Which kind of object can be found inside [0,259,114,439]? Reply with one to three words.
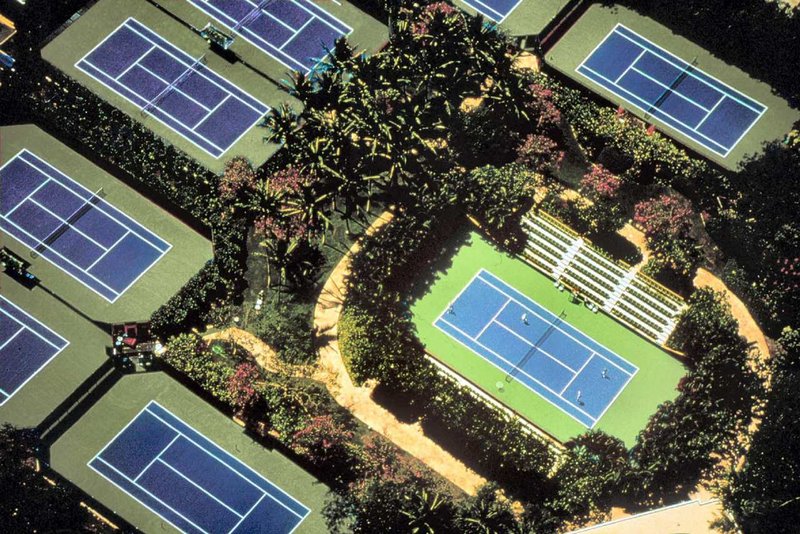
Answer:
tennis court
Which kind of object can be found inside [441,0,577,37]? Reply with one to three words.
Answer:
tennis court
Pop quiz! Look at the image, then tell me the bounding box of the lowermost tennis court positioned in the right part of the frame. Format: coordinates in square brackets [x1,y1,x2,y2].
[402,228,686,472]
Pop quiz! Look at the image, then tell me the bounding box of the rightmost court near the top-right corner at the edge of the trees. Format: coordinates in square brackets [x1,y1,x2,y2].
[538,0,800,173]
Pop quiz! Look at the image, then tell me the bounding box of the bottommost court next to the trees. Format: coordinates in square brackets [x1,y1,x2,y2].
[40,368,338,534]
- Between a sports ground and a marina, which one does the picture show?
sports ground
